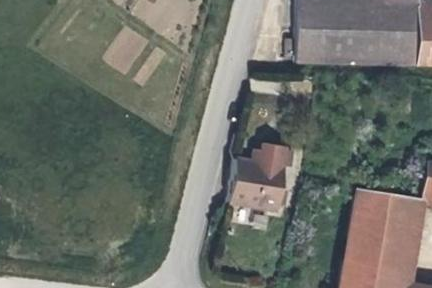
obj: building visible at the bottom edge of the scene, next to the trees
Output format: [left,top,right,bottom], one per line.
[334,188,432,288]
